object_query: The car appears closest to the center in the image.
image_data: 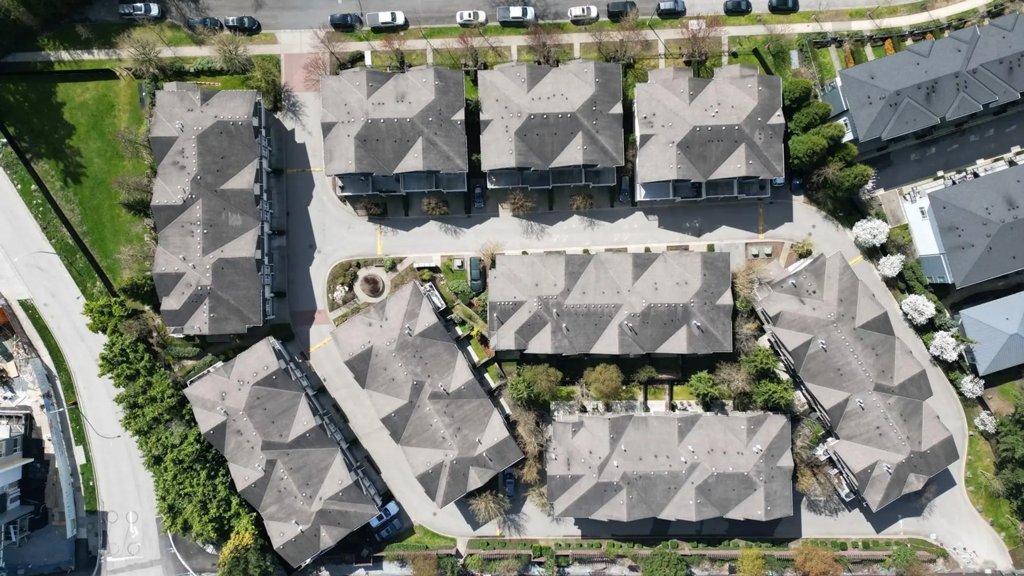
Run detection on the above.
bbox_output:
[469,258,484,292]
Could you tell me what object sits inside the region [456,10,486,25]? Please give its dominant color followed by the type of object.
white car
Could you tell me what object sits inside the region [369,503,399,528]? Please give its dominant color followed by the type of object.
blue car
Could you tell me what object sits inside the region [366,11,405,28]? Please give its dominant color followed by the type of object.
white vehicle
